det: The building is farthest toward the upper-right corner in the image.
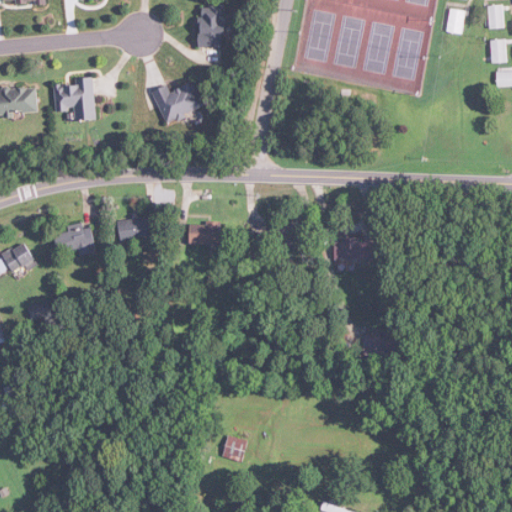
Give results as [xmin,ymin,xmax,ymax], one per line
[488,4,510,30]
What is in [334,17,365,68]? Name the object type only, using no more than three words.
tennis court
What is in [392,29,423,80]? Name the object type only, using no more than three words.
tennis court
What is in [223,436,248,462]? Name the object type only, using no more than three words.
barn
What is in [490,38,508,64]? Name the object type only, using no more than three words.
house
